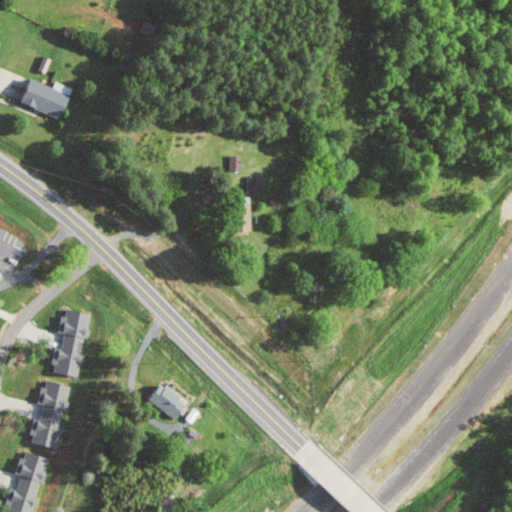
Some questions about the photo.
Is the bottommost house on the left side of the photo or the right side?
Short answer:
left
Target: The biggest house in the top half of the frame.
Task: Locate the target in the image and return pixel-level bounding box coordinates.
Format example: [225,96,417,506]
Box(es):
[20,80,74,122]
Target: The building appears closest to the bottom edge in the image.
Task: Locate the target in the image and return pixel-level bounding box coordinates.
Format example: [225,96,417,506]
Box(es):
[5,454,49,512]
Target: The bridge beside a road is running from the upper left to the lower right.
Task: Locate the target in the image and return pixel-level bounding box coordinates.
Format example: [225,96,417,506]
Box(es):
[294,438,386,512]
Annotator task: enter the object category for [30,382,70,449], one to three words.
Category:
house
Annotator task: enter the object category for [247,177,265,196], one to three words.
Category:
house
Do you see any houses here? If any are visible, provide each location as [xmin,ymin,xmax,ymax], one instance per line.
[5,454,49,512]
[247,177,265,196]
[50,309,90,378]
[244,196,254,234]
[148,383,191,421]
[20,80,74,122]
[30,382,70,449]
